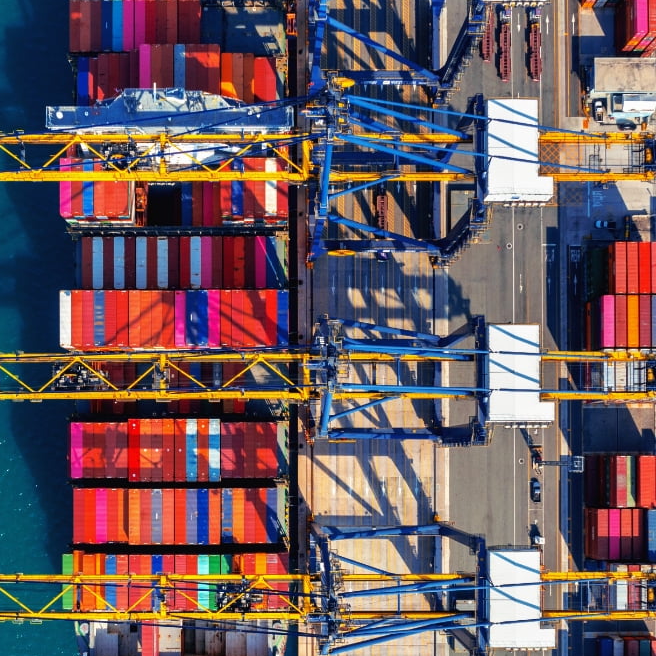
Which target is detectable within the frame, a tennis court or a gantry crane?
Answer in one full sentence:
This aerial view contains a gantry crane.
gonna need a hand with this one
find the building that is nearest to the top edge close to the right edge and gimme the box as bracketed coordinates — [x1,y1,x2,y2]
[592,58,656,96]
